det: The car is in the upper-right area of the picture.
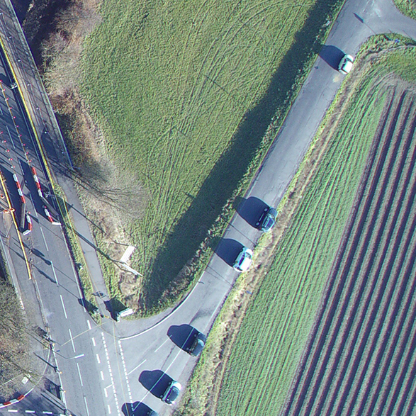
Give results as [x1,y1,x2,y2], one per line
[336,53,353,76]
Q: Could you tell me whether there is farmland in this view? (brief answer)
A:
Yes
